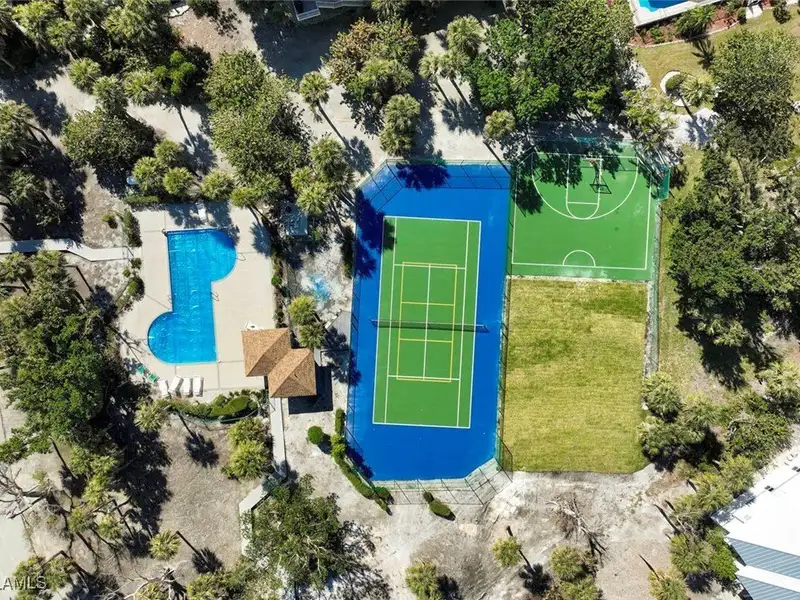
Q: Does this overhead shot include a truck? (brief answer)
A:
No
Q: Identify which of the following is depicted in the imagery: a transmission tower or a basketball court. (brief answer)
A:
basketball court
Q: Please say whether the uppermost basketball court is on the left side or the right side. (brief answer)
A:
right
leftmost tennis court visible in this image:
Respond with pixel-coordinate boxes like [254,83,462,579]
[345,164,511,480]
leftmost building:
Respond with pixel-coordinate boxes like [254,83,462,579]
[242,328,319,398]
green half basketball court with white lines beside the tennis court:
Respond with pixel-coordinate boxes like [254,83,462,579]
[509,145,660,281]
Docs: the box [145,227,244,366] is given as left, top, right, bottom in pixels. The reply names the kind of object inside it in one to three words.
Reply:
swimming pool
